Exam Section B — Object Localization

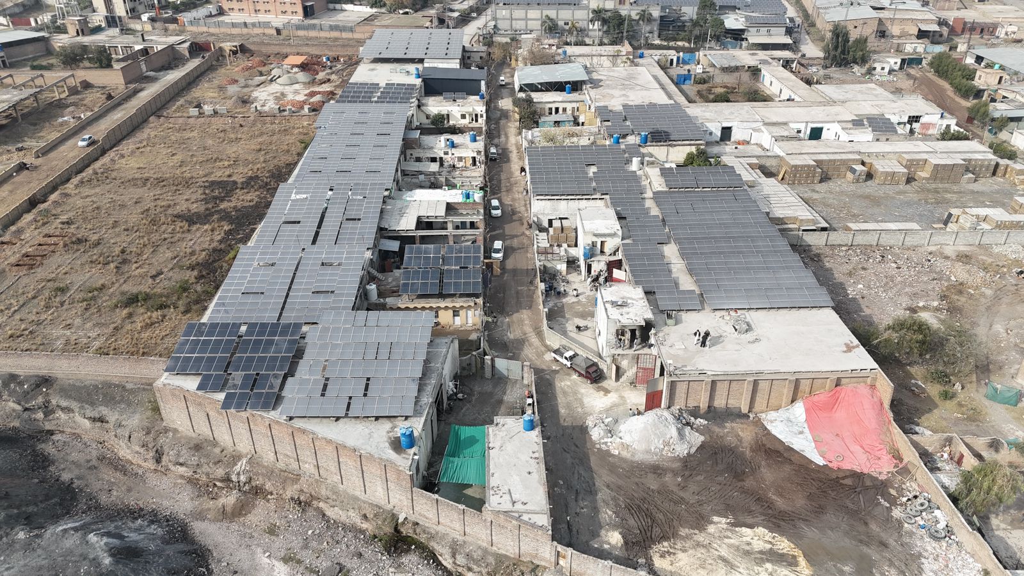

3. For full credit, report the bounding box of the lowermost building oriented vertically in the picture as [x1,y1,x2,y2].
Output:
[487,418,552,561]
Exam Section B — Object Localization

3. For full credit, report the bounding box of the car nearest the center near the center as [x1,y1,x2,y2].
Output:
[490,242,505,259]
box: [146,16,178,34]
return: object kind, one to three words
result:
shed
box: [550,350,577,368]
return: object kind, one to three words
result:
vehicle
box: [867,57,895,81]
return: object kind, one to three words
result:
house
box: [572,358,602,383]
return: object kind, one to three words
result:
truck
